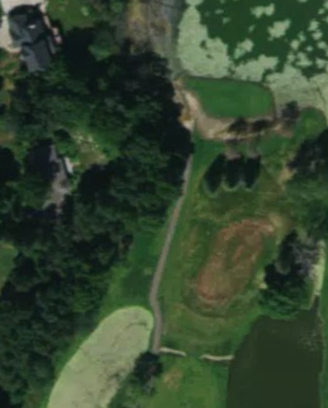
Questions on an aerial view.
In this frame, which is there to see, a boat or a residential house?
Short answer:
residential house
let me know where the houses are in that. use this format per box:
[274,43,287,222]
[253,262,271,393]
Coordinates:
[28,135,72,207]
[3,3,57,72]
